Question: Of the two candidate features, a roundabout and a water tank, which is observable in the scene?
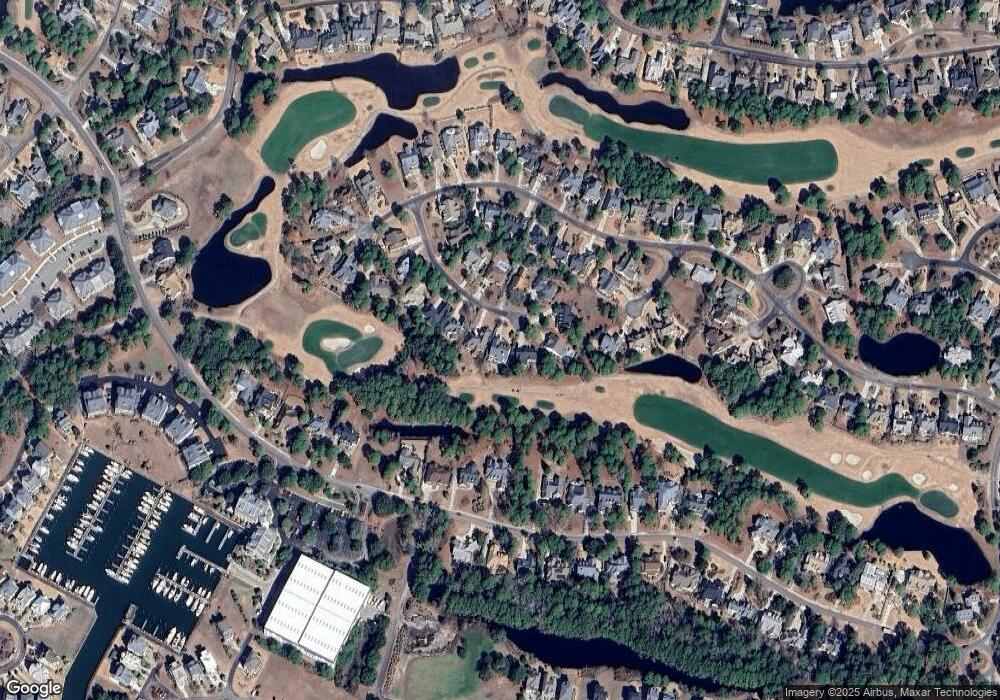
roundabout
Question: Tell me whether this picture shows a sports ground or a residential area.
residential area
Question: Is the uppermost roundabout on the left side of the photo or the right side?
right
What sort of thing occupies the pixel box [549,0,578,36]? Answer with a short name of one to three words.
house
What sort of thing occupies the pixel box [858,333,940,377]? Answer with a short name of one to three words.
pond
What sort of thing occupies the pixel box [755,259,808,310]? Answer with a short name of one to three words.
roundabout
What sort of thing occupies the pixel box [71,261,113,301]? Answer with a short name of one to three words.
building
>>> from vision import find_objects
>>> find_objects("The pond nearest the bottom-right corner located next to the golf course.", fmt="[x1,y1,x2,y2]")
[862,502,990,586]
